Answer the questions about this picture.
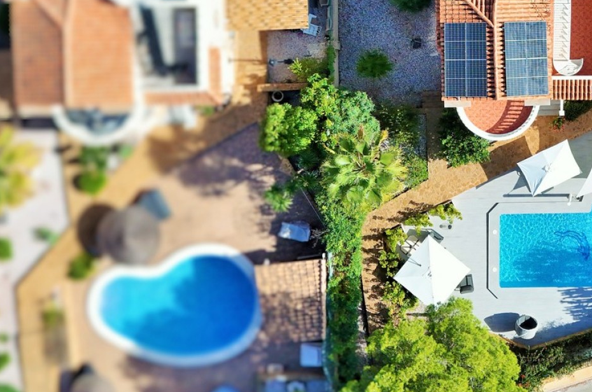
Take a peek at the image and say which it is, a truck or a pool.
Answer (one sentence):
Visible in the photo is a pool.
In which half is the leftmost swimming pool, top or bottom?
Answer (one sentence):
The bottom half of the photo is where the leftmost swimming pool is.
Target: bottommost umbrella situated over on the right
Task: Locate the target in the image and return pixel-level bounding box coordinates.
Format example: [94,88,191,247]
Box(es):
[394,237,470,306]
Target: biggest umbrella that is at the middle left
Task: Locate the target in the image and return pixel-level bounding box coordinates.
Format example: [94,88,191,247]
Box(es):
[97,200,166,269]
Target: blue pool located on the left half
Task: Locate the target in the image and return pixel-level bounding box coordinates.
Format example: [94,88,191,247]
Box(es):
[90,241,259,368]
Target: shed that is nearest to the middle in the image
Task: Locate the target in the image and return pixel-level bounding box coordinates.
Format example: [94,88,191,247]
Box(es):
[255,255,328,345]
